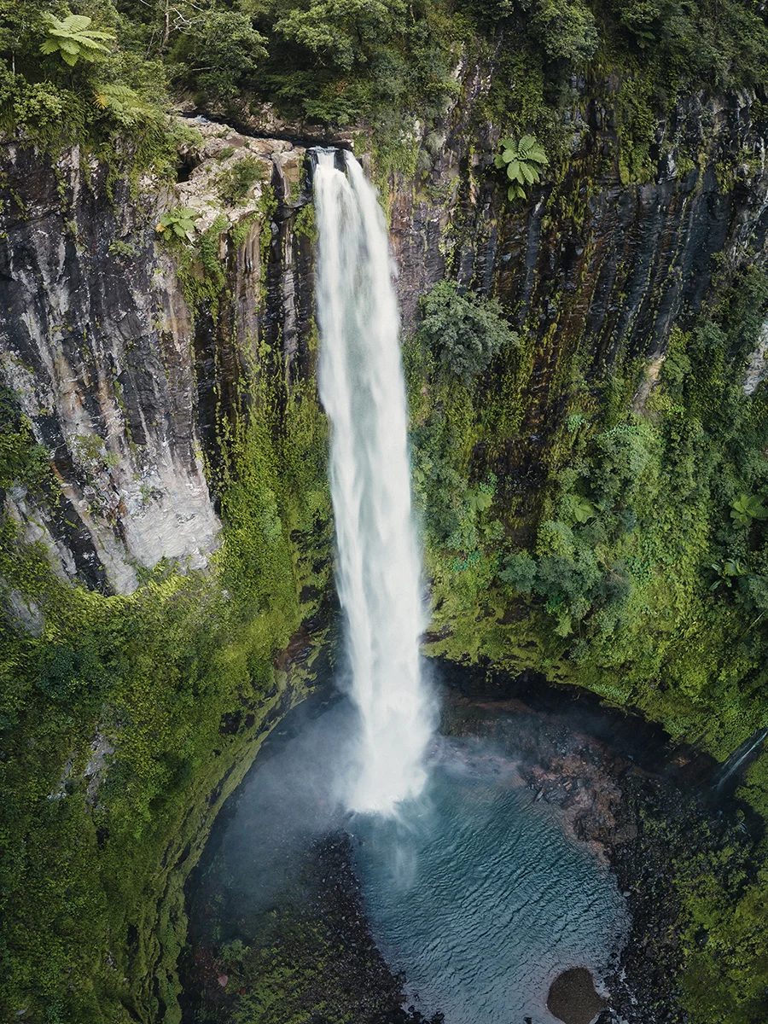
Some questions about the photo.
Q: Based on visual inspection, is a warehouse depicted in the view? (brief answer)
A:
No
